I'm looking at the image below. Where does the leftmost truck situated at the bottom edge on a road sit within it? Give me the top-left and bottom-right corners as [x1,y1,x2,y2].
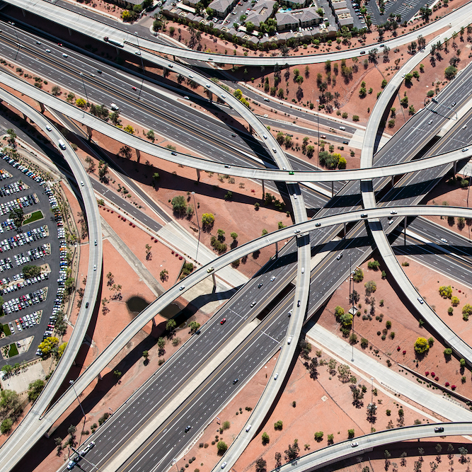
[71,444,93,466]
